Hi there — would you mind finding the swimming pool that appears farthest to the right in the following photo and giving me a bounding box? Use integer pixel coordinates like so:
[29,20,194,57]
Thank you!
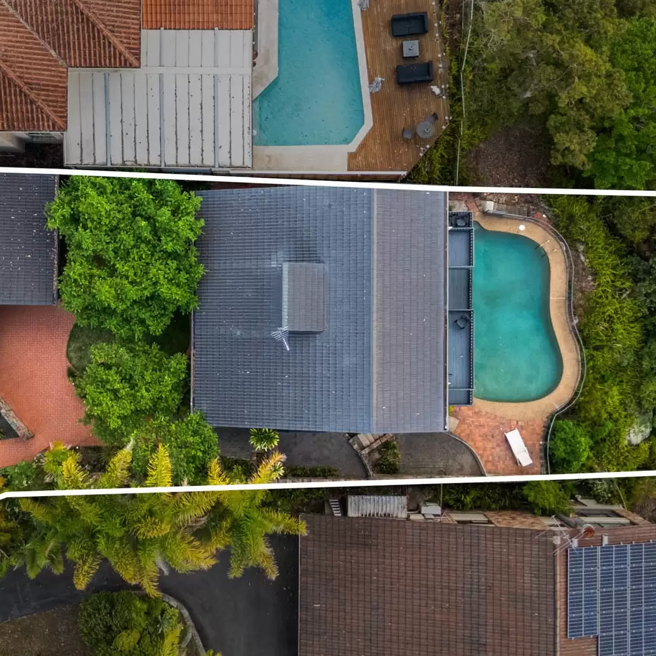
[450,208,580,421]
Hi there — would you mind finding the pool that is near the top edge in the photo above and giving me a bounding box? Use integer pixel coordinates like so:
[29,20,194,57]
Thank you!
[254,0,372,155]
